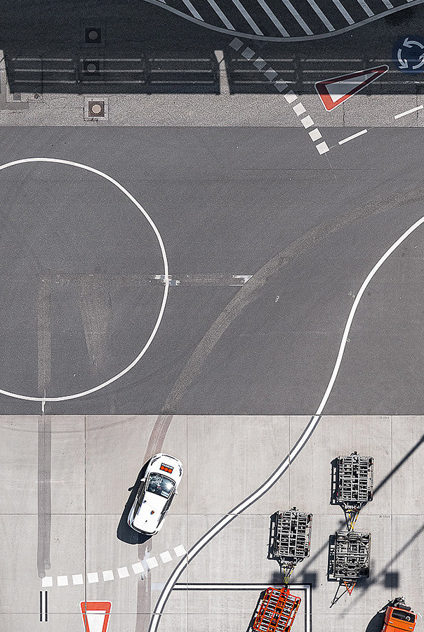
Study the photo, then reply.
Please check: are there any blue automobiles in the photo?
No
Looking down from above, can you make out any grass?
No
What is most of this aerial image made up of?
paved ground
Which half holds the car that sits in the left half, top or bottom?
bottom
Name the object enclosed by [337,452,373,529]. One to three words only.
trailer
